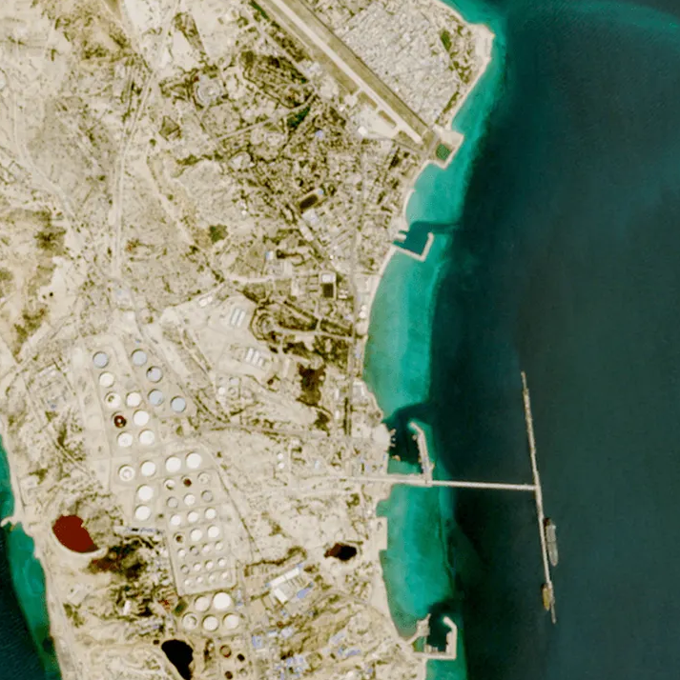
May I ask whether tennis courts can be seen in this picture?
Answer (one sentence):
No, the scene contains no tennis court.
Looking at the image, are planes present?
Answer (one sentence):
No, I find no plane anywhere in the image.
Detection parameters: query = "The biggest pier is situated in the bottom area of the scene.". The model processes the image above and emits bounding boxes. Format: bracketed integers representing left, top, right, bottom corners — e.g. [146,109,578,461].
[385,371,555,624]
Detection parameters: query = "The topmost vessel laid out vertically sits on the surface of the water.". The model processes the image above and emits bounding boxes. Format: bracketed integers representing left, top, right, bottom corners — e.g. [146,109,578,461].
[546,520,558,566]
